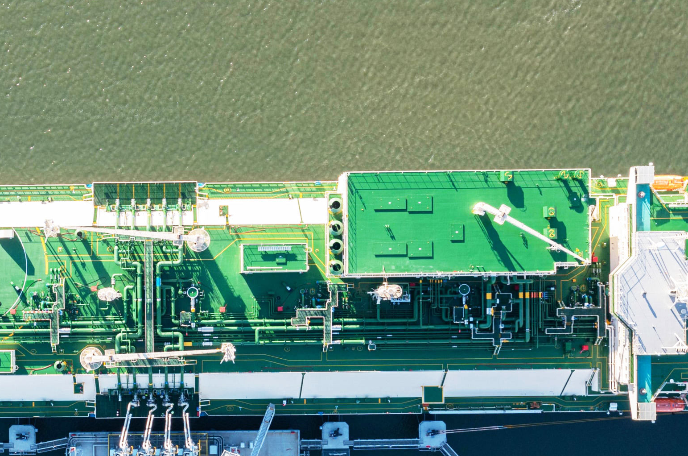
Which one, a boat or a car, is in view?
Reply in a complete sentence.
There is a boat in the scene.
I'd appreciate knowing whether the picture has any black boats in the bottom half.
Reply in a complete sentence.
No, in the bottom half there is no black boat.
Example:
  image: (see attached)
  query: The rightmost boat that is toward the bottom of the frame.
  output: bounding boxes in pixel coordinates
[653,395,688,411]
